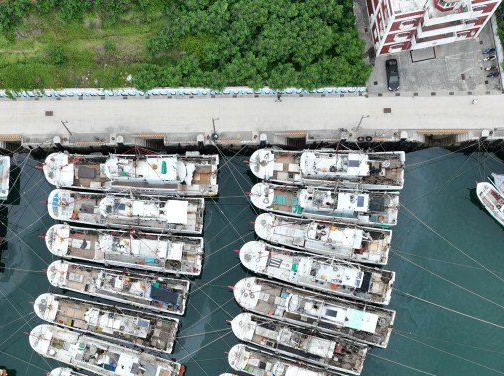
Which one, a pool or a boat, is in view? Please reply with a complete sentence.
Looking from above, you can make out a boat.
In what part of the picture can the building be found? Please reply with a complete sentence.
You can find the building in the top right area of the picture.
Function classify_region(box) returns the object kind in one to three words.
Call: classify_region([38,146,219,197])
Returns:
boat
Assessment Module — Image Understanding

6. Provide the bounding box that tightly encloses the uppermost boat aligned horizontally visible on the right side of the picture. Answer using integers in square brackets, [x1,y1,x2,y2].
[245,144,404,190]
